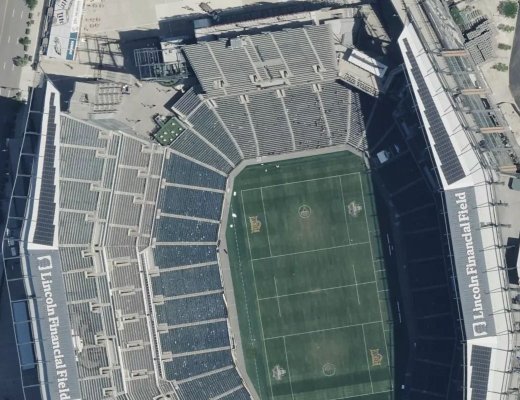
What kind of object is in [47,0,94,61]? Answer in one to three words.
building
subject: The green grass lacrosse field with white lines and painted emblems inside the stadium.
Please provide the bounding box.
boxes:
[219,144,420,400]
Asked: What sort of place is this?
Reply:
sports ground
